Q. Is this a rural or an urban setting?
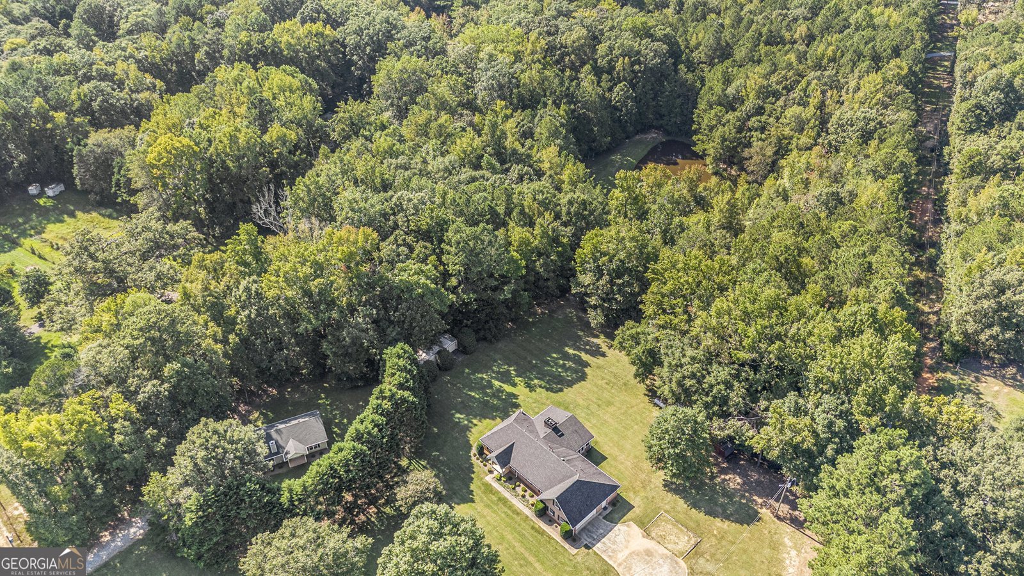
rural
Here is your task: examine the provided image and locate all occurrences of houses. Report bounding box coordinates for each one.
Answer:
[479,405,622,539]
[248,409,329,472]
